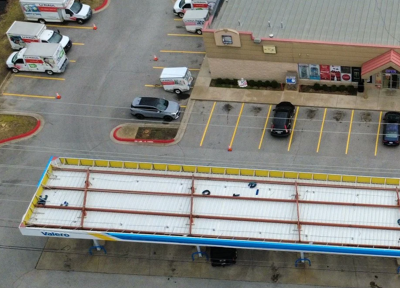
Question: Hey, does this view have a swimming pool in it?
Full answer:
No, I find no swimming pool anywhere in the image.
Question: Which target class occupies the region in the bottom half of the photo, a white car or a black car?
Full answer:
It is a black car that can be seen in the bottom half of the photo.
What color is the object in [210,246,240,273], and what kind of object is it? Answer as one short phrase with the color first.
black car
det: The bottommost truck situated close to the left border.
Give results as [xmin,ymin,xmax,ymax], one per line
[5,42,69,76]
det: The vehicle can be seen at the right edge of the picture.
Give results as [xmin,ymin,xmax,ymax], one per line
[381,111,400,147]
